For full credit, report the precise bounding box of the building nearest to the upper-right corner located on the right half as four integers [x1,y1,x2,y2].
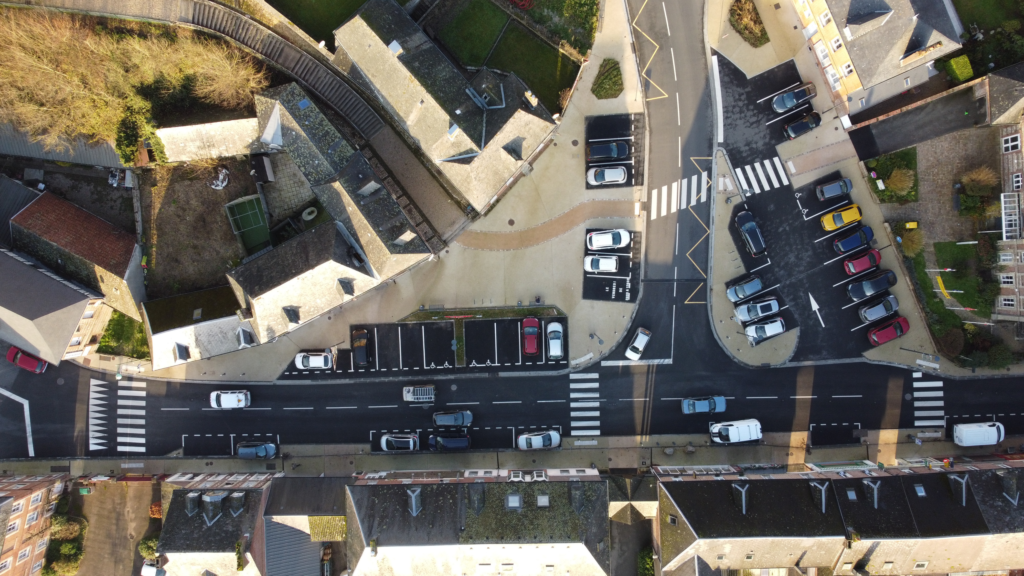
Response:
[973,64,1024,128]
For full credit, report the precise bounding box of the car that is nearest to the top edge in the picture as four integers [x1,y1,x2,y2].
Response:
[770,81,819,114]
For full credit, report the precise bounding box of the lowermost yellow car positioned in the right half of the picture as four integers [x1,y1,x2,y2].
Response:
[817,202,865,231]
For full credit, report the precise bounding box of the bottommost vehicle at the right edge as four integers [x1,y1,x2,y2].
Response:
[946,422,1000,446]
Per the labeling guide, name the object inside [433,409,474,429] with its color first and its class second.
blue car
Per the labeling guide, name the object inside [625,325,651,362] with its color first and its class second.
white car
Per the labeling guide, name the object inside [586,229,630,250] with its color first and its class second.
white car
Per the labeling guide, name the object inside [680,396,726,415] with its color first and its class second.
blue car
